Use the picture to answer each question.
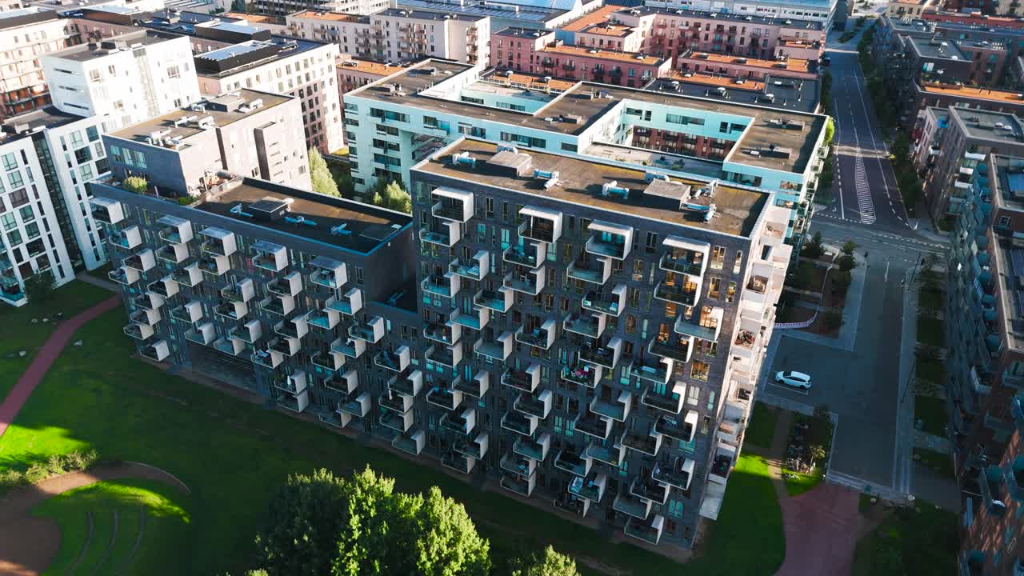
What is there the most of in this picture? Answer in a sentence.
What you mostly see from above here is buildings.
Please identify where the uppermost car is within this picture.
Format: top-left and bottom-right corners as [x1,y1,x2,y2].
[774,371,810,390]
